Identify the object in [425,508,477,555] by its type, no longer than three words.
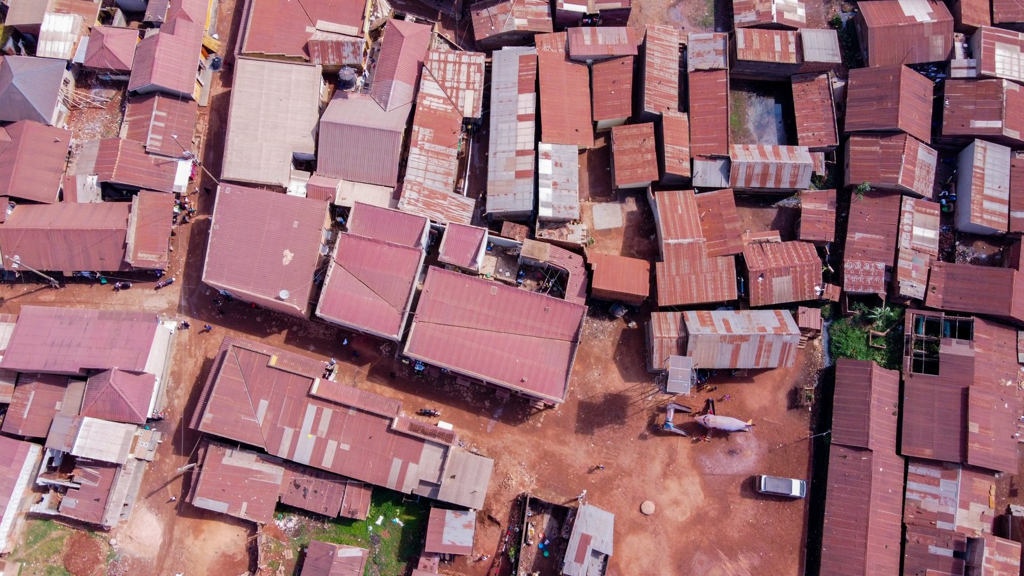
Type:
shed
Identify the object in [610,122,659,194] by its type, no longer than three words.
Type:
house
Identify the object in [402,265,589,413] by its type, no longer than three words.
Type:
building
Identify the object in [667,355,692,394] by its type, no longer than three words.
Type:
solar panel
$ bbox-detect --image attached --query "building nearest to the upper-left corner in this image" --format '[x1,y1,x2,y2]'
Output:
[5,0,47,43]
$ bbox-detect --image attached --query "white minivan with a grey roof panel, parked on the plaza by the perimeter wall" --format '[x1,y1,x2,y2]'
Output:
[752,474,805,501]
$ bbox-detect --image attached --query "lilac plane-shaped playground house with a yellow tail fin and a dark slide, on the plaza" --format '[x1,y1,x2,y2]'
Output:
[692,396,755,441]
